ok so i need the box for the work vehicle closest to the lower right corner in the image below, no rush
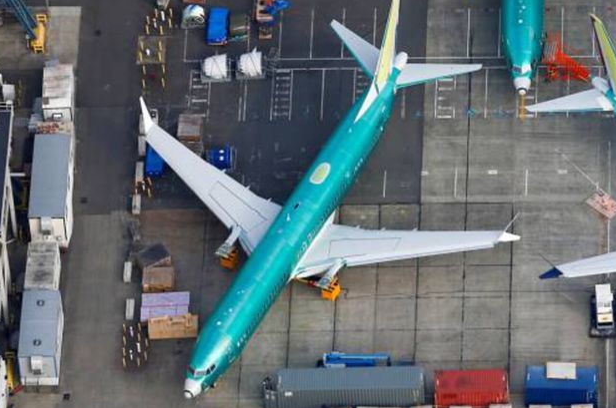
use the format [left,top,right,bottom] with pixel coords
[589,275,616,341]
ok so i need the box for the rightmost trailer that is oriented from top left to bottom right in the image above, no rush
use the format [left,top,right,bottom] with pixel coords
[554,149,616,220]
